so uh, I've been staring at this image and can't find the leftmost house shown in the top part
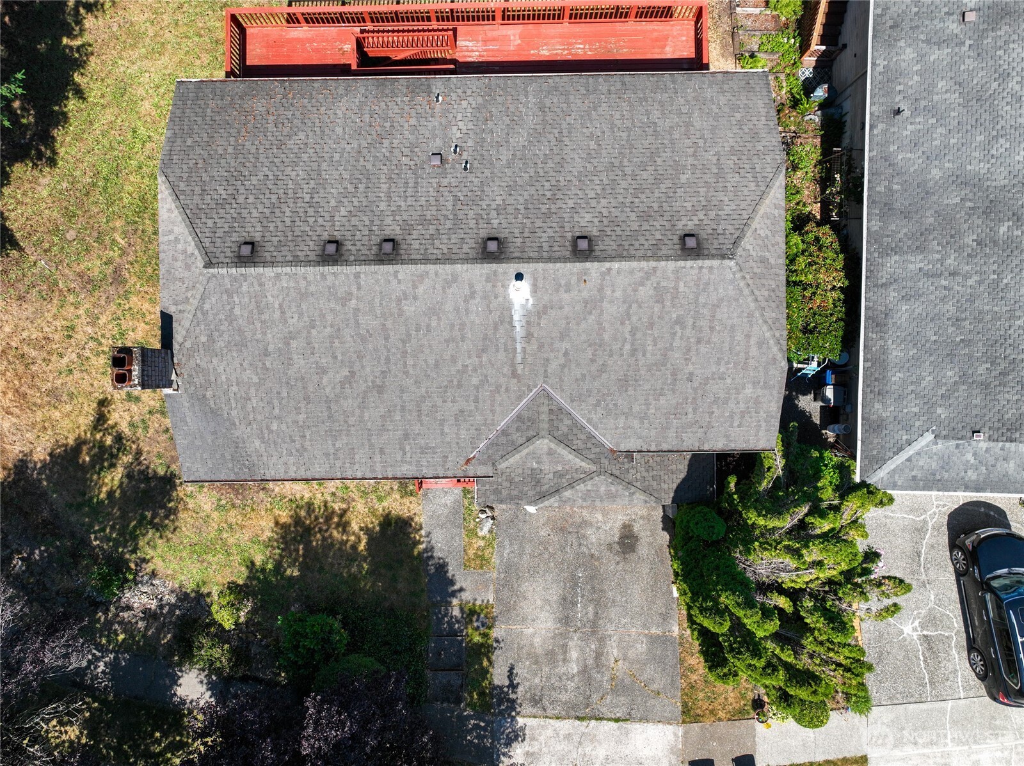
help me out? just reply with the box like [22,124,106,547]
[111,65,790,511]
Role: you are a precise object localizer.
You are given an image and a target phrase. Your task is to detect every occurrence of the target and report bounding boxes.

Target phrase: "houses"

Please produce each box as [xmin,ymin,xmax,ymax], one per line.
[111,65,790,511]
[836,0,1024,499]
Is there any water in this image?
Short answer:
No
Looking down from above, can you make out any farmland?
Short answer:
No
